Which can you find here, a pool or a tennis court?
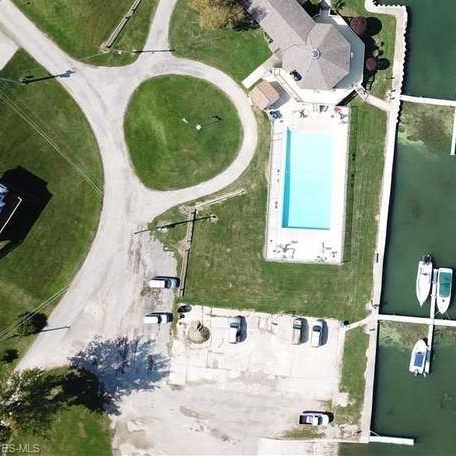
pool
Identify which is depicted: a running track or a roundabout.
roundabout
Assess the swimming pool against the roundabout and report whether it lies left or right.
on the right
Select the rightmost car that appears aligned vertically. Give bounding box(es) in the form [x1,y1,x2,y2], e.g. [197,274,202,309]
[308,320,322,349]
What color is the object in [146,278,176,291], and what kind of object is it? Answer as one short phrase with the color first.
white vehicle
